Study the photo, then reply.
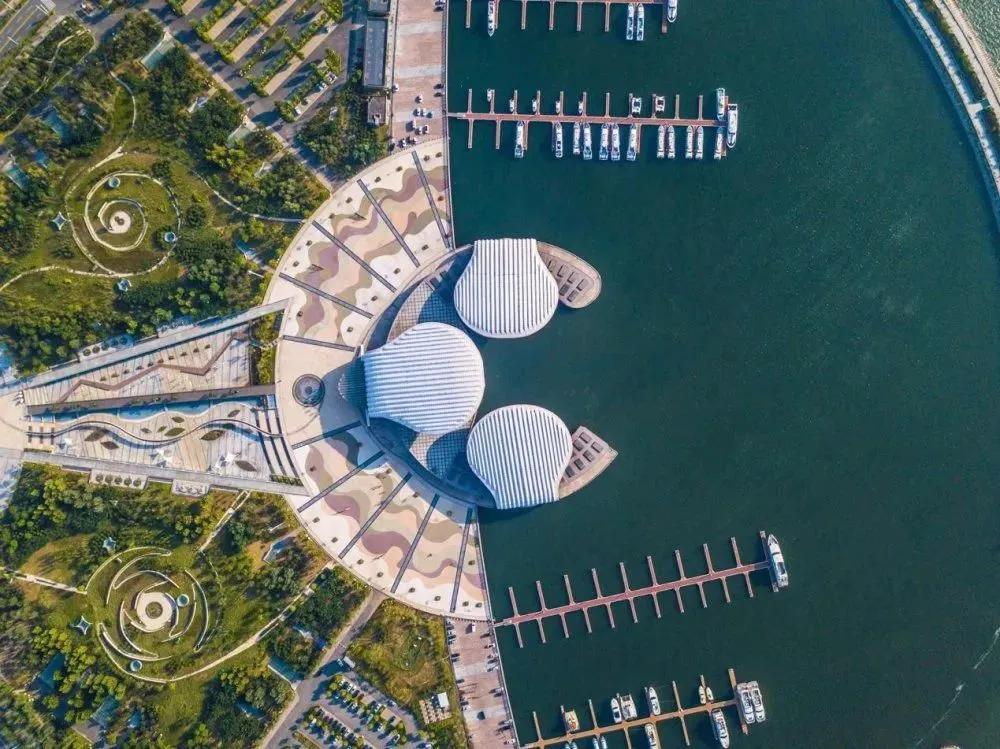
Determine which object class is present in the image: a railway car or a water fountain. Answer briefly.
water fountain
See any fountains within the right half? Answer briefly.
No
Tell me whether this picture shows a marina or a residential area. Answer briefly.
marina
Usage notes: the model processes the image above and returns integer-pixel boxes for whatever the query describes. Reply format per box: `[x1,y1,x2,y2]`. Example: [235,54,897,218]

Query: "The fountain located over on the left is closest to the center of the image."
[293,373,325,405]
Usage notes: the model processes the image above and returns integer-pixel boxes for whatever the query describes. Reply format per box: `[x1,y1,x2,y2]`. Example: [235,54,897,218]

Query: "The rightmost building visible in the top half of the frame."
[454,238,559,338]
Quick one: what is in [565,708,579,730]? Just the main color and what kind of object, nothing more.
white boat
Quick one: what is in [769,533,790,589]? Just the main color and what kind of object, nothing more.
white boat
